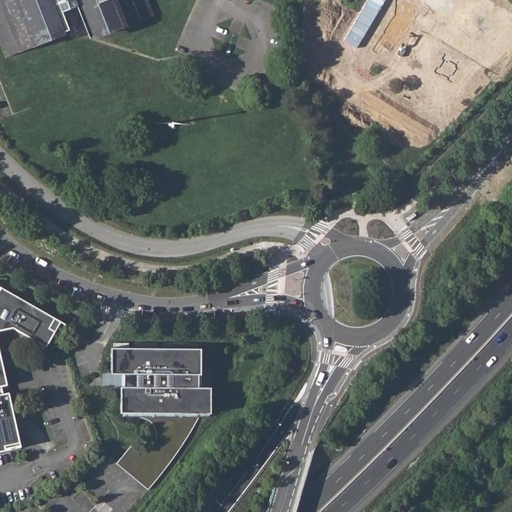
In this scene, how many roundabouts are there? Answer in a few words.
one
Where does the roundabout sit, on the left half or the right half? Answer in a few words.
right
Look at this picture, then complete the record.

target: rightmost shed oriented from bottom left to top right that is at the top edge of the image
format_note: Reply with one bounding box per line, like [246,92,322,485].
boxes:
[343,0,386,48]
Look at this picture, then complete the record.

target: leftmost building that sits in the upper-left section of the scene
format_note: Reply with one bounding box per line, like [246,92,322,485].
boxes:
[0,0,68,60]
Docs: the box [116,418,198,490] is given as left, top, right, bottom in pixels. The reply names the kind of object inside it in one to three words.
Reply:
building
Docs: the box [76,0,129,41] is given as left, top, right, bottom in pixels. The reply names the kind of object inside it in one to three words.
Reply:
building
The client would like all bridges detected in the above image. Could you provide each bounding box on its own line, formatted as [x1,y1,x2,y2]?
[268,442,316,512]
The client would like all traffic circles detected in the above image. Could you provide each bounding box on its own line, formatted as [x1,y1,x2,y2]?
[304,237,413,348]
